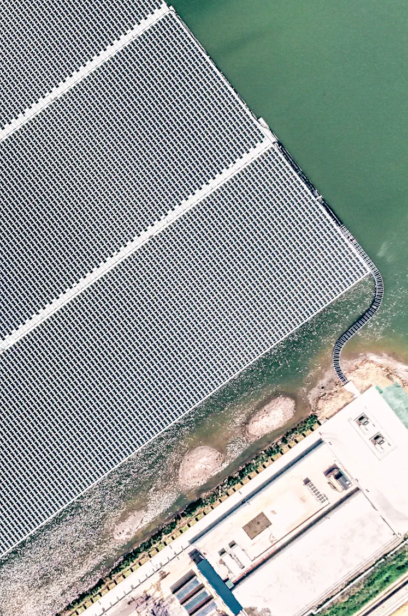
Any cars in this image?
No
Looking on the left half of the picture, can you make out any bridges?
No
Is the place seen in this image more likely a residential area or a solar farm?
solar farm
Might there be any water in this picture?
Yes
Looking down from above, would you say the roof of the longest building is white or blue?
blue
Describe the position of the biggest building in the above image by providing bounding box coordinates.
[194,558,244,615]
